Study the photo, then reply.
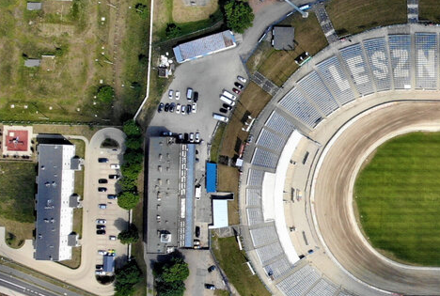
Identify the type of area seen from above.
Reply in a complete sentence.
What you see here is a sports ground.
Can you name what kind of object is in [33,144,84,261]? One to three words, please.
building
